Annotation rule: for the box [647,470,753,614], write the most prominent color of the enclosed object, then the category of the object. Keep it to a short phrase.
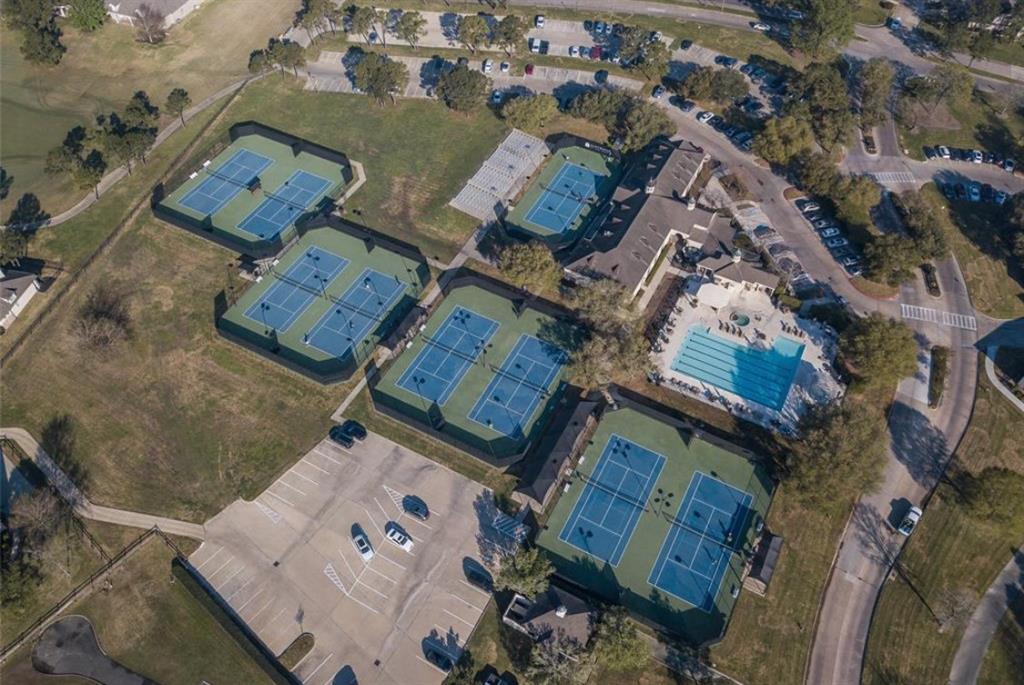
blue tennis court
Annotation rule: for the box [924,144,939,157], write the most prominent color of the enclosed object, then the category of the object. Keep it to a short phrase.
black vehicle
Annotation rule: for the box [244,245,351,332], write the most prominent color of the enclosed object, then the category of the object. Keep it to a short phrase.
blue tennis court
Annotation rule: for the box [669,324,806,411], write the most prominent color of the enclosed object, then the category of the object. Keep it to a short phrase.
blue swimming pool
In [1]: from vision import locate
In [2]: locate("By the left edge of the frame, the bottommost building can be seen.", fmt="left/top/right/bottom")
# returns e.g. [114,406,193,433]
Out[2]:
[0,273,37,326]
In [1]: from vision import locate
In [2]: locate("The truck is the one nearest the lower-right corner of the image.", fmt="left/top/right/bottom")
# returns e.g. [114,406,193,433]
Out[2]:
[900,503,923,533]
